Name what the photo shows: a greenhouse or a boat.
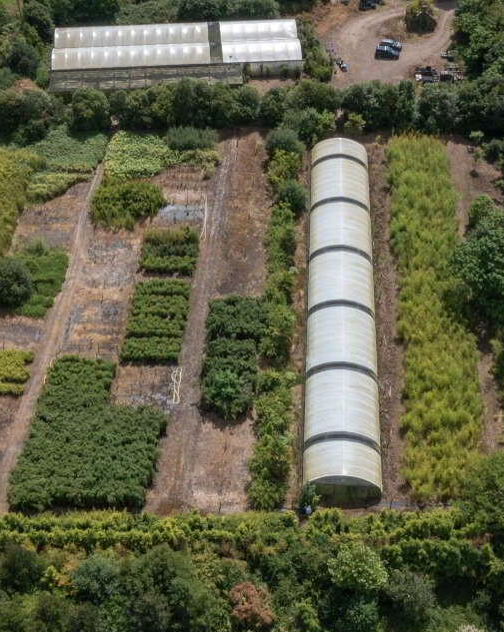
greenhouse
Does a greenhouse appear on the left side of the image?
Yes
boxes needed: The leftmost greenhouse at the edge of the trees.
[51,23,240,90]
